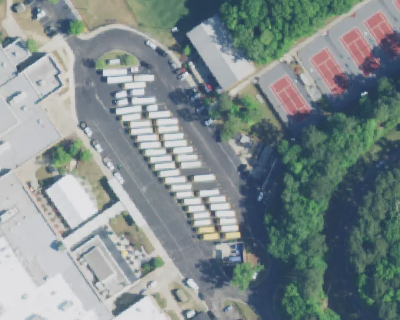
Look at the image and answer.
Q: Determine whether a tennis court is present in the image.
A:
Yes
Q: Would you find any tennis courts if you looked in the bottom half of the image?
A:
No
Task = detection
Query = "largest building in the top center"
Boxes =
[187,14,255,90]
